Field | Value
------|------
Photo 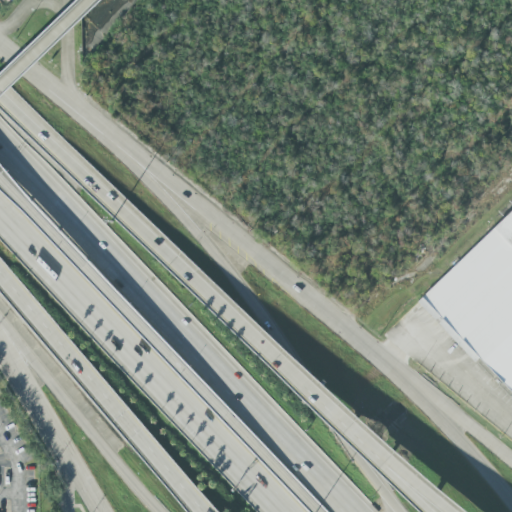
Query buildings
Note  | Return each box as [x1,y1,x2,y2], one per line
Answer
[418,212,512,392]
